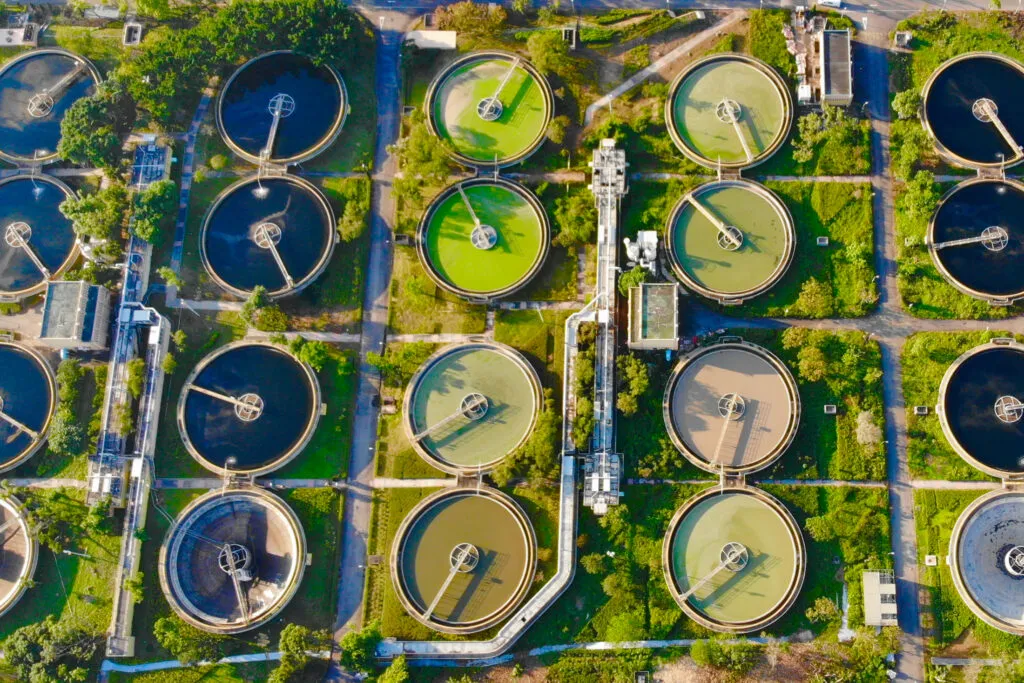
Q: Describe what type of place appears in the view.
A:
industrial area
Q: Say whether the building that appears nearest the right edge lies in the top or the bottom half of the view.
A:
bottom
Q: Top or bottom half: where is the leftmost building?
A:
top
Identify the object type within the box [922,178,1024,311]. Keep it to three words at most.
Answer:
storage tank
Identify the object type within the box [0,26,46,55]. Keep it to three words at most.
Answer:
building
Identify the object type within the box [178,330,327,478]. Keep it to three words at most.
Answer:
storage tank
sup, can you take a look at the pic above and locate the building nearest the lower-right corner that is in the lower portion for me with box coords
[860,570,898,626]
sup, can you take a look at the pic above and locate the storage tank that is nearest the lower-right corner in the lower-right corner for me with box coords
[942,489,1024,635]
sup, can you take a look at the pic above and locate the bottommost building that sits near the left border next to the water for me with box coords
[40,281,113,349]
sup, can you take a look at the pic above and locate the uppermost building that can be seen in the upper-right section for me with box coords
[806,29,854,105]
